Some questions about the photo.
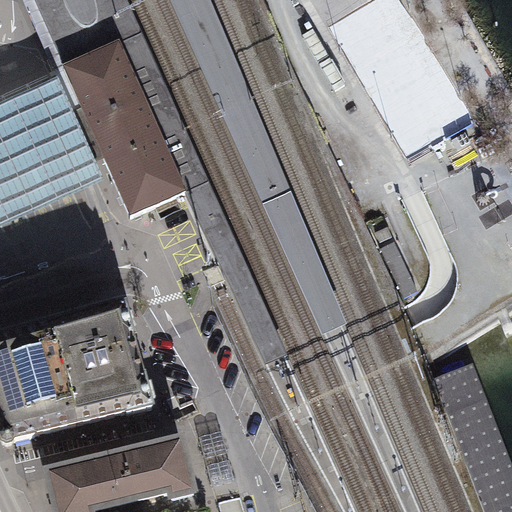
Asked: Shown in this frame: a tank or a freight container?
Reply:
freight container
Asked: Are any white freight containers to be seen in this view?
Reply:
Yes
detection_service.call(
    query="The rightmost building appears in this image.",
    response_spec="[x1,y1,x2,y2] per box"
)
[434,364,512,512]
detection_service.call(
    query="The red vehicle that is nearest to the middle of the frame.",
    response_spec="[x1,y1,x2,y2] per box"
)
[218,348,231,370]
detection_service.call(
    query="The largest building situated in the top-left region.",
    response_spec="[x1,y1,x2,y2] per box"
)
[60,40,188,220]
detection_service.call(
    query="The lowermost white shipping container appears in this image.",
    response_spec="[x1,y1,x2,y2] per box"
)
[319,58,345,94]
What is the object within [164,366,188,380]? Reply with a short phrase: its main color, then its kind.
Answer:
black vehicle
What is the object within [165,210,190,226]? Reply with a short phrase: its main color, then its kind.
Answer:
black car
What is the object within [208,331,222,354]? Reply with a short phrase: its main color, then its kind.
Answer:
black car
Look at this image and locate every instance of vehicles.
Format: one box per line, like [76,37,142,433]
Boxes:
[152,339,173,350]
[171,384,194,396]
[248,414,261,436]
[218,348,231,370]
[224,365,238,388]
[246,500,256,512]
[208,331,222,354]
[202,313,216,336]
[291,0,302,8]
[164,366,188,380]
[165,210,190,226]
[155,352,178,363]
